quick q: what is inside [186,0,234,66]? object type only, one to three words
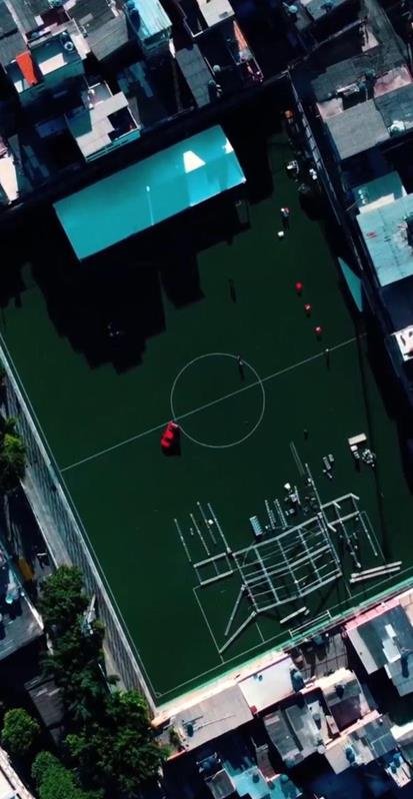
house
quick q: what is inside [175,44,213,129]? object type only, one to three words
house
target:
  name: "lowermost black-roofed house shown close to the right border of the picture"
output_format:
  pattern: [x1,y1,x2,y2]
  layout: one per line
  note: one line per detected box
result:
[300,756,400,799]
